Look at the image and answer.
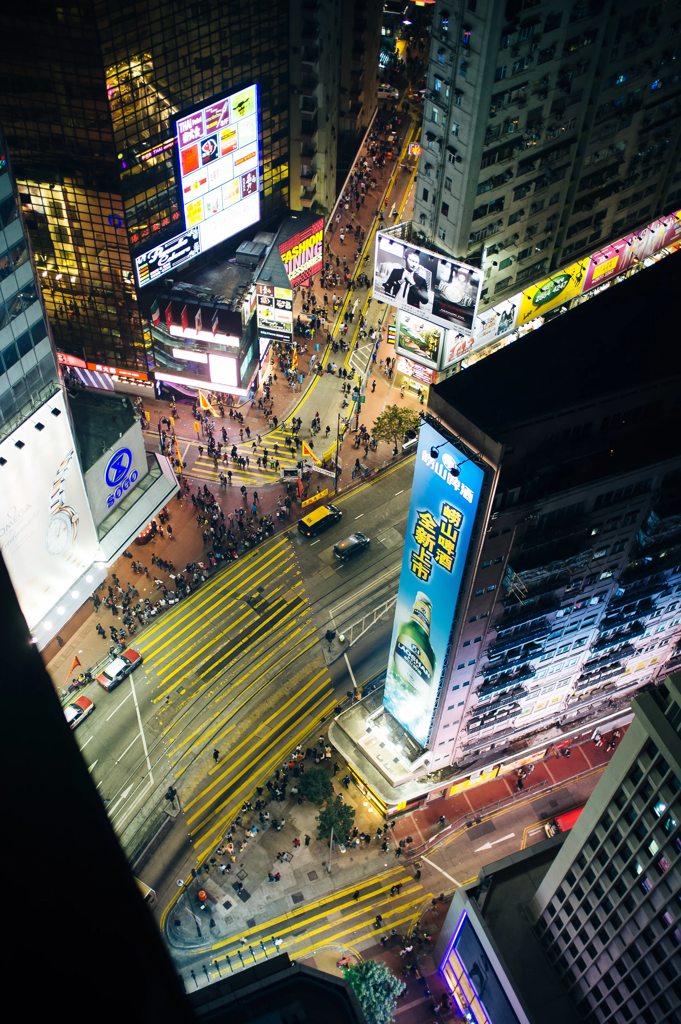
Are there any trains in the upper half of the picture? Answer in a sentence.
No, no train can be made out in the upper half of the picture.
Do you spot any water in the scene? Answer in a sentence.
No, there is no water in the image.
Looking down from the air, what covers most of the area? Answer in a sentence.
Most of the picture is covered by buildings.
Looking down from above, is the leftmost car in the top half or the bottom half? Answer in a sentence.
Seen from above, the leftmost car lies in the bottom half of the view.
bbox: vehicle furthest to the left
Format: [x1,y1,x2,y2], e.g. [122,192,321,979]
[69,693,101,727]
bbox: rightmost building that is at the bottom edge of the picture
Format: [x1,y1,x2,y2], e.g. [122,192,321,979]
[433,664,681,1024]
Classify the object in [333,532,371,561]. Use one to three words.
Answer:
car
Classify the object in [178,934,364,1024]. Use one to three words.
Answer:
building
